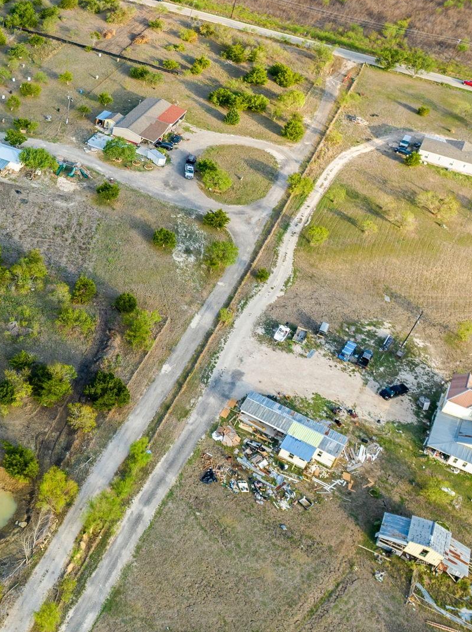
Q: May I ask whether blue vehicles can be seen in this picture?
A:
Yes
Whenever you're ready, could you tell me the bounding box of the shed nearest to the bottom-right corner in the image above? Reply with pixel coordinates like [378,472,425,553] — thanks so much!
[378,512,471,581]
